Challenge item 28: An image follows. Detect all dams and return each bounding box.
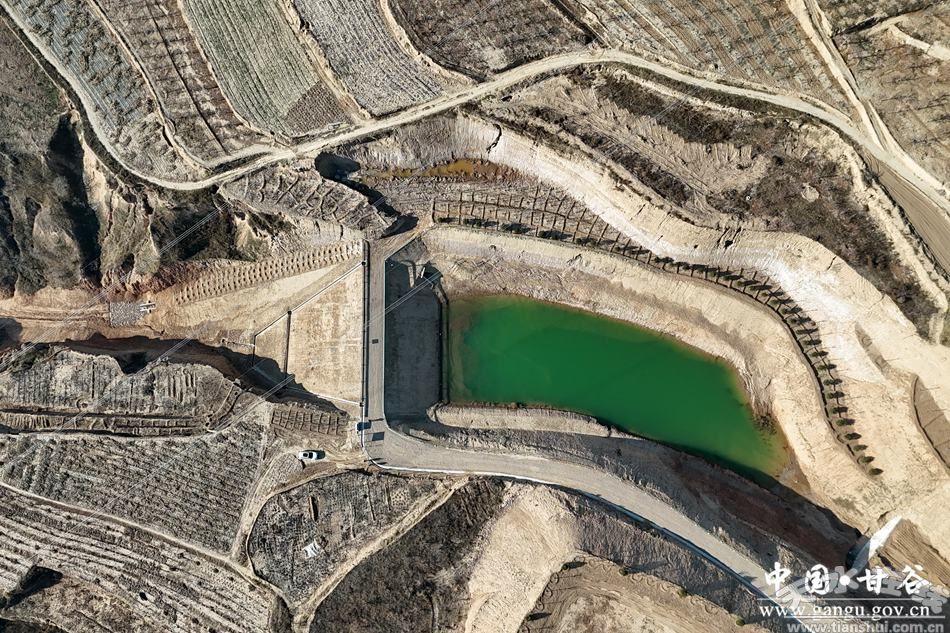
[222,231,447,440]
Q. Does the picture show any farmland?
Yes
